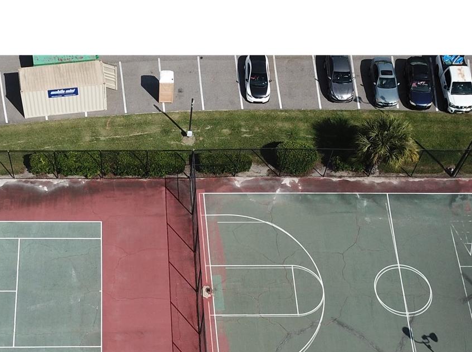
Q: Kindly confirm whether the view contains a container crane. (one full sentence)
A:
No, no container crane is visible in the view.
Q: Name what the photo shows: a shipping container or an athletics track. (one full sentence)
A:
It is a shipping container that can be seen here.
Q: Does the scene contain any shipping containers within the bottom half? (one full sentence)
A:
No, no shipping container can be made out within the bottom half.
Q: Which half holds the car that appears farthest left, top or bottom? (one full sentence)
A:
The car that appears farthest left is in the top half of the image.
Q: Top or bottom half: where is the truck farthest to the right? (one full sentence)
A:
The truck farthest to the right sits in the top half of the picture.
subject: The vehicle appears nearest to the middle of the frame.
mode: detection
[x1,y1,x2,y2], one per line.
[244,52,274,102]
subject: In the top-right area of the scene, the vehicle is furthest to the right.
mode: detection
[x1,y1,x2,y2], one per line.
[433,52,472,112]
